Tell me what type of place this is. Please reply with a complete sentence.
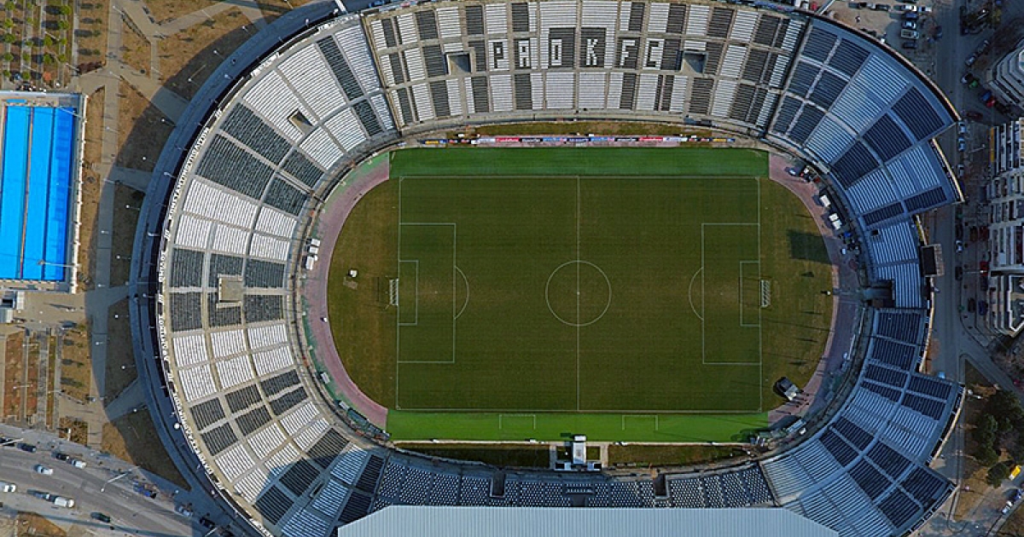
The picture captures a sports ground.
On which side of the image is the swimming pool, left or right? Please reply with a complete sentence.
It is on the left.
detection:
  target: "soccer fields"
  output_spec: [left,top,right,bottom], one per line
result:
[328,149,833,442]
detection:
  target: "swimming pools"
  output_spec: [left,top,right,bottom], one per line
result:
[0,90,91,293]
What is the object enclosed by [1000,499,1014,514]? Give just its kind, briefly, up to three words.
car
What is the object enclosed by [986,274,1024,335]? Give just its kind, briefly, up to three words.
building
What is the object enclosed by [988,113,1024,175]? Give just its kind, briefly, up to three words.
building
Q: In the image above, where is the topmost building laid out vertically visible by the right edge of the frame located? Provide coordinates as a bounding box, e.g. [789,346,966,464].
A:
[989,31,1024,112]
